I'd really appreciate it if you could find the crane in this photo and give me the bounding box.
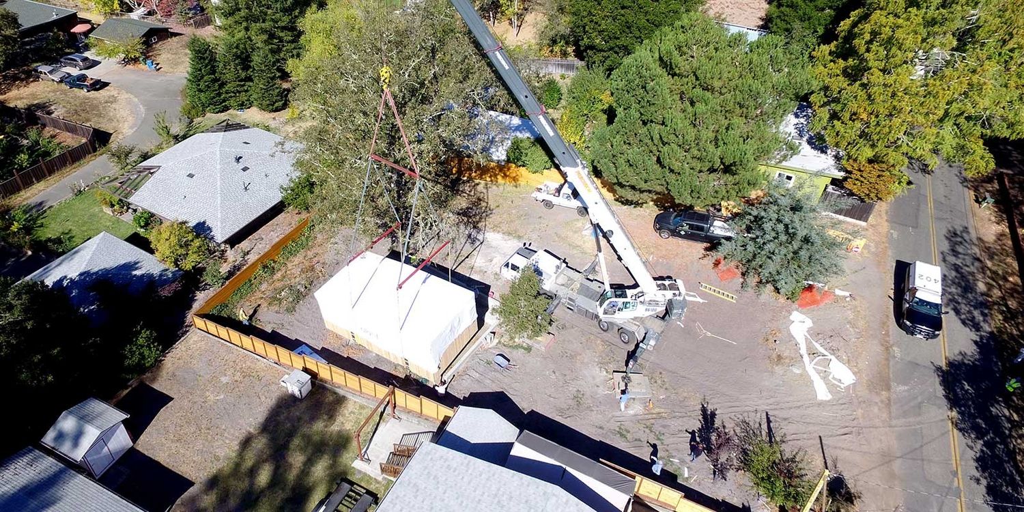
[444,0,709,382]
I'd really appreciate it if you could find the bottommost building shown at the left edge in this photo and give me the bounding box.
[0,447,136,512]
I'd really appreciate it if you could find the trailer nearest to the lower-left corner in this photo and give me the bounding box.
[294,473,380,512]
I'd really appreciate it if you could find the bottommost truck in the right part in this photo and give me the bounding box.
[897,261,947,342]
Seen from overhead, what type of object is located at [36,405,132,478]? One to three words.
shed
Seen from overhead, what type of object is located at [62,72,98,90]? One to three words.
vehicle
